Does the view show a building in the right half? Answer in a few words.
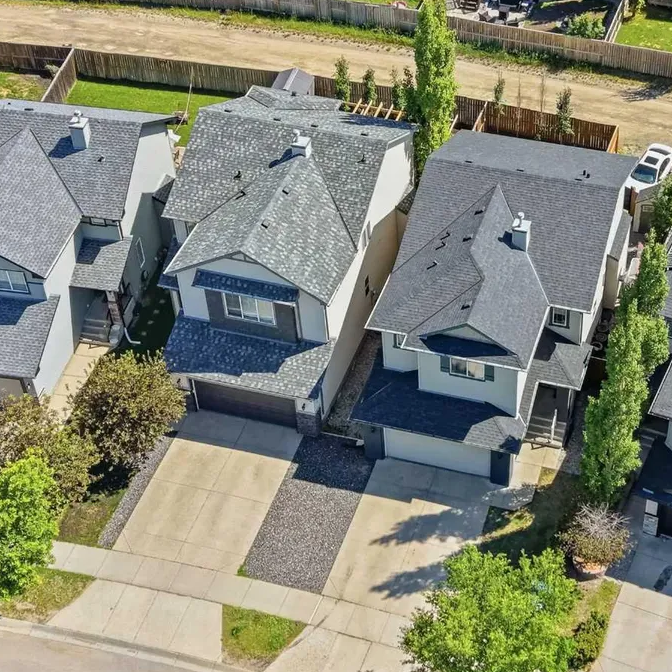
Yes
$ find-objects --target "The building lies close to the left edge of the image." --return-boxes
[0,99,178,422]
